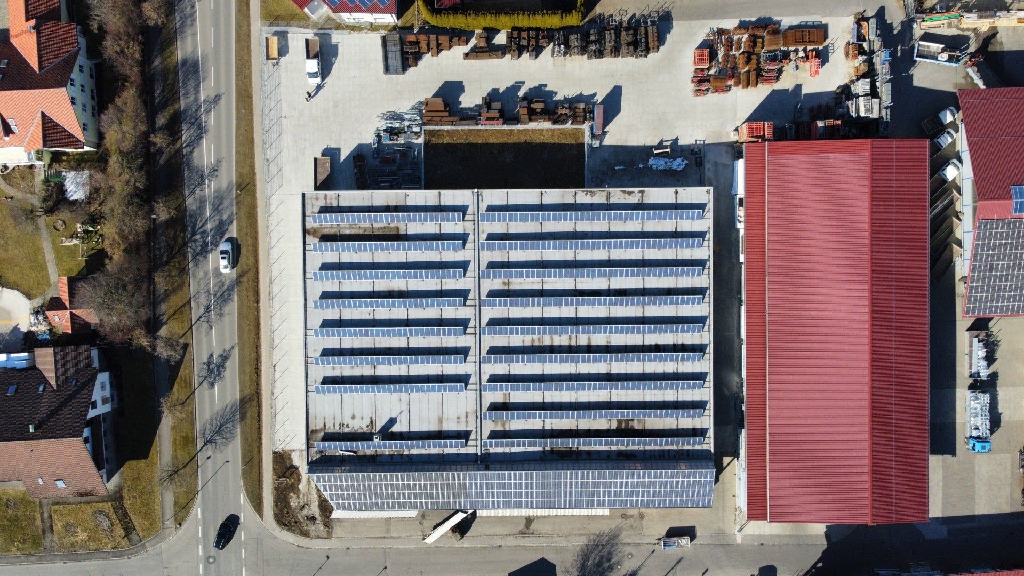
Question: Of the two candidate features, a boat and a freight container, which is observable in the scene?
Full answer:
The image shows a freight container.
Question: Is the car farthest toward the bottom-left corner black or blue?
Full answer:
The car farthest toward the bottom-left corner looks black in the image.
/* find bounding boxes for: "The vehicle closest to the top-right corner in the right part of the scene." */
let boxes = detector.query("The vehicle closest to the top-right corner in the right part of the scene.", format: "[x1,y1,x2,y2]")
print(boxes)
[962,46,998,72]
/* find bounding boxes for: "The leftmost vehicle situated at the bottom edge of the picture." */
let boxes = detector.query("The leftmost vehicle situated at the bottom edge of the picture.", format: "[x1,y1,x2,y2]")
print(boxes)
[214,518,236,551]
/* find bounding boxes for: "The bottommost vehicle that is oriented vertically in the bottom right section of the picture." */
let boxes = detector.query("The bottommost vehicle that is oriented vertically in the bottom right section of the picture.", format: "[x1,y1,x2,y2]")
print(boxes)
[965,391,995,453]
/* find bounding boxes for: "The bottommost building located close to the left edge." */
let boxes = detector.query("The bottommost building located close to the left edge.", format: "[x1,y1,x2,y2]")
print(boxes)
[0,345,126,499]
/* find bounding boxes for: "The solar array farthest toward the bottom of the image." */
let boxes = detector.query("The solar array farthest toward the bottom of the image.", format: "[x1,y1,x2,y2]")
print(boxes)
[314,471,714,510]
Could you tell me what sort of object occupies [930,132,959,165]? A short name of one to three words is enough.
truck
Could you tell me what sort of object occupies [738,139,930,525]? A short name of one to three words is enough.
building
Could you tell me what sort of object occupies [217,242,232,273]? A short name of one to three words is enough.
car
